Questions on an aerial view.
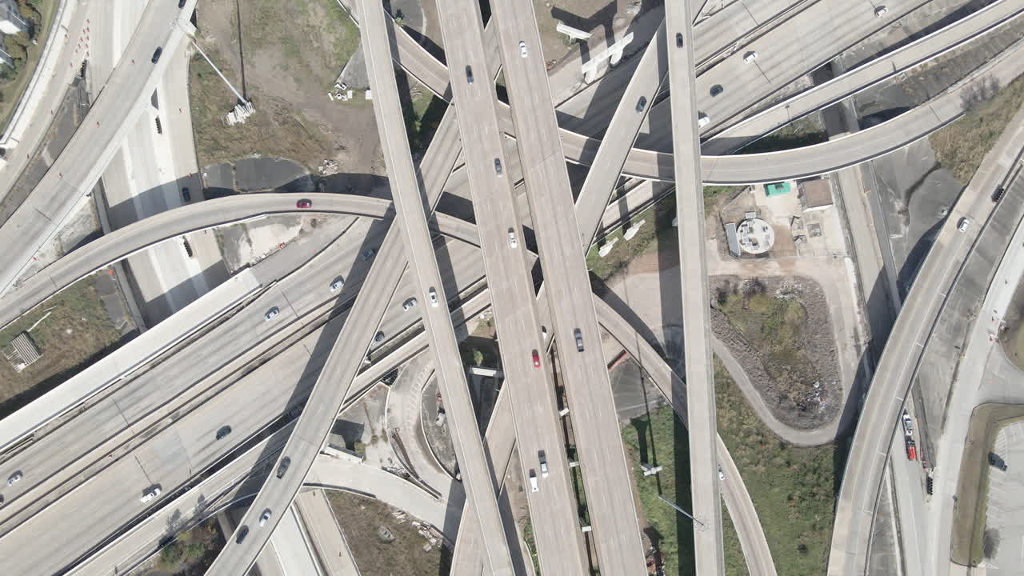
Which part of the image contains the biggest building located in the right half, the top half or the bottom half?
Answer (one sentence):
It is in the top half that the biggest building located in the right half appears.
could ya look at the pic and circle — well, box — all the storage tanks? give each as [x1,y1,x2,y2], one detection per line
[739,217,777,255]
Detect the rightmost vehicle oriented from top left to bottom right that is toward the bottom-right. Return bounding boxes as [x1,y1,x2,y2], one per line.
[990,455,1005,468]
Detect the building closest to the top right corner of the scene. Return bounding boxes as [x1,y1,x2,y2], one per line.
[800,180,832,209]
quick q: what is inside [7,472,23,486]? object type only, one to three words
car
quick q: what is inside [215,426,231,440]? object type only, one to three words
car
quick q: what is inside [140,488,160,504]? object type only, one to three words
vehicle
